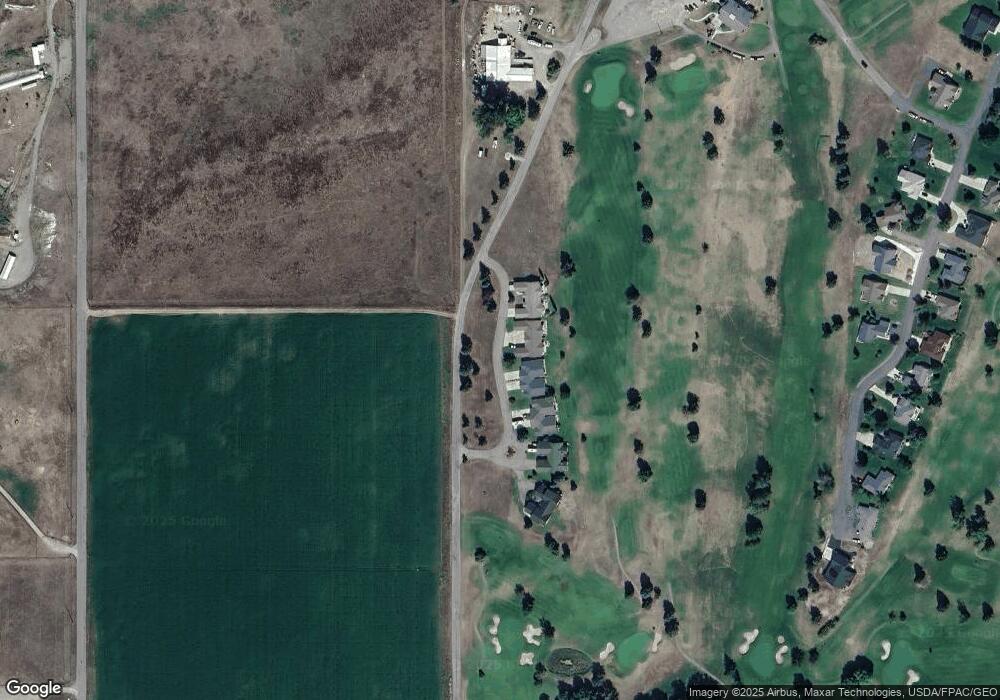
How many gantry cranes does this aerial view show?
none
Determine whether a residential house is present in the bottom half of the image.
Yes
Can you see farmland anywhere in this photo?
Yes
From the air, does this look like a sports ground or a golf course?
golf course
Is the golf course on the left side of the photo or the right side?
right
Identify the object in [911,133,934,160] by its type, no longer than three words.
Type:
house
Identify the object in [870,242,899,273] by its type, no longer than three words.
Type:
house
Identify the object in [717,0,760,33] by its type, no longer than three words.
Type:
building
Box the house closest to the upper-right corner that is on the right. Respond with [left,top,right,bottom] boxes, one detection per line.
[962,6,1000,41]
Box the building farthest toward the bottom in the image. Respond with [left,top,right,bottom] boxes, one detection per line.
[821,545,858,590]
